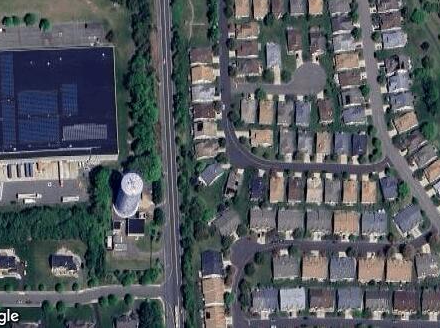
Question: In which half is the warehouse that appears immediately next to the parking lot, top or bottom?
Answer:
top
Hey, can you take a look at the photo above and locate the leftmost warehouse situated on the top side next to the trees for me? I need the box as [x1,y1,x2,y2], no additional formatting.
[0,46,118,163]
